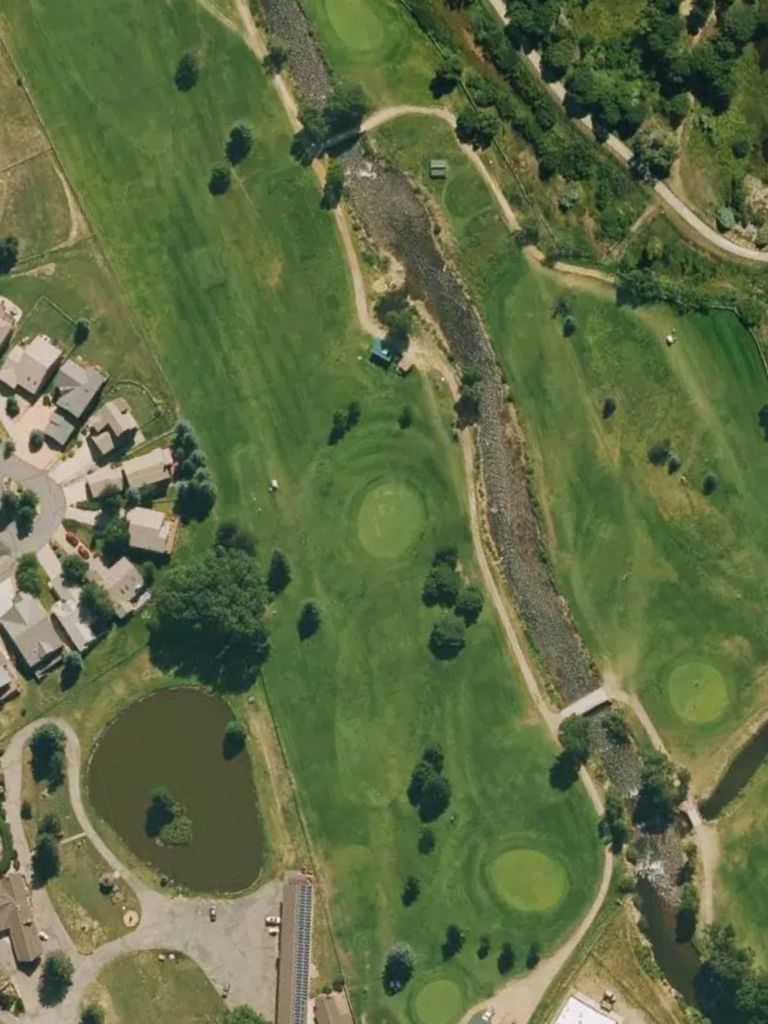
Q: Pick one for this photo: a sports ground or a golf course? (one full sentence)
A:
It's a golf course.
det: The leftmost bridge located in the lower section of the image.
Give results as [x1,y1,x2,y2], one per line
[558,690,609,721]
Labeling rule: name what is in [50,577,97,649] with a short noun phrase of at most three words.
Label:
house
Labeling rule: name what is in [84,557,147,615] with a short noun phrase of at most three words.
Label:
house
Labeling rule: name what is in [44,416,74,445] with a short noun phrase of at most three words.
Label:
building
